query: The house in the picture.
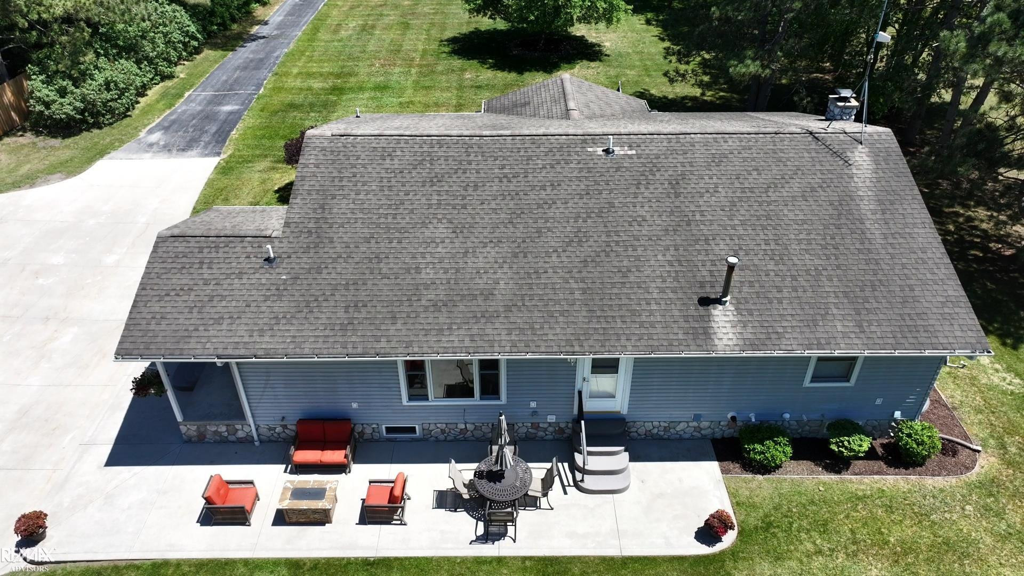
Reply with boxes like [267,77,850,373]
[111,73,997,448]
